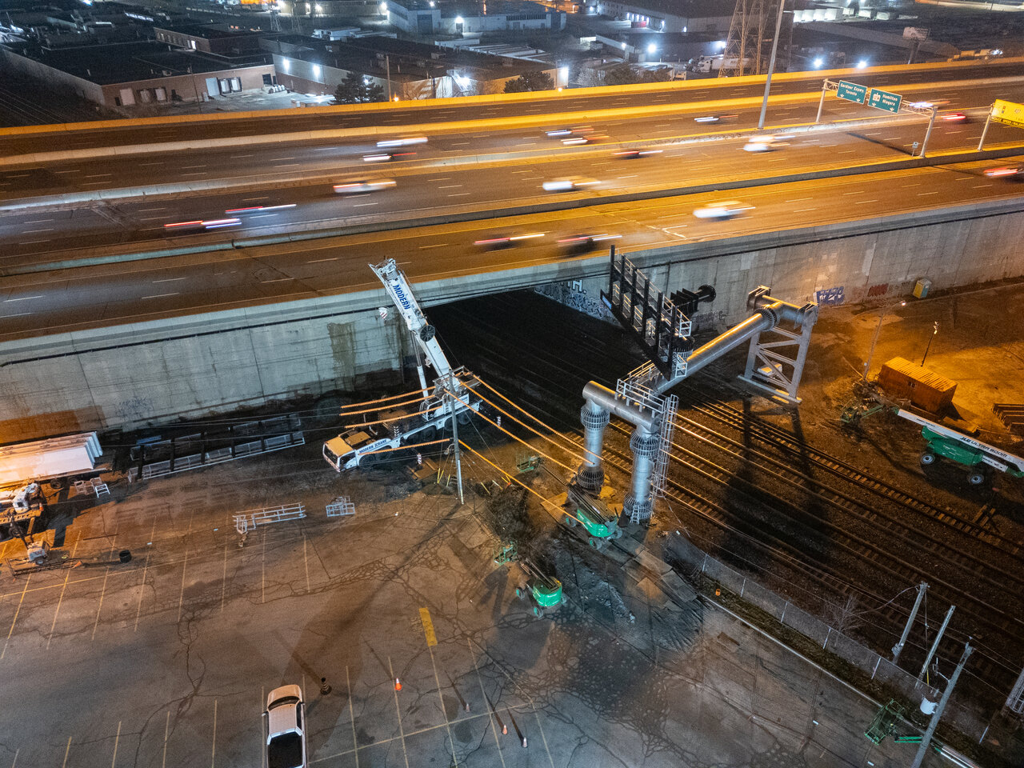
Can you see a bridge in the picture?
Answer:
Yes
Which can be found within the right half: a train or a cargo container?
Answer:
cargo container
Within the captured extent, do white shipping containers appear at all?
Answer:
No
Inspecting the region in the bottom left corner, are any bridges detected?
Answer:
No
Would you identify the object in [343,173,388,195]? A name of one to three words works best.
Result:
vehicle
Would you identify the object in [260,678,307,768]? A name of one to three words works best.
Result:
truck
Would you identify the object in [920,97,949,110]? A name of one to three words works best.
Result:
vehicle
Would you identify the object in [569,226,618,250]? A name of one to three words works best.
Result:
car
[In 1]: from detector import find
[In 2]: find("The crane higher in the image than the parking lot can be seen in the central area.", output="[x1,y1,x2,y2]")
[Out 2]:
[321,255,501,468]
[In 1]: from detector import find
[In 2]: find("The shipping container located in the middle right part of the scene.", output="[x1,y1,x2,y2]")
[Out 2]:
[876,356,959,413]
